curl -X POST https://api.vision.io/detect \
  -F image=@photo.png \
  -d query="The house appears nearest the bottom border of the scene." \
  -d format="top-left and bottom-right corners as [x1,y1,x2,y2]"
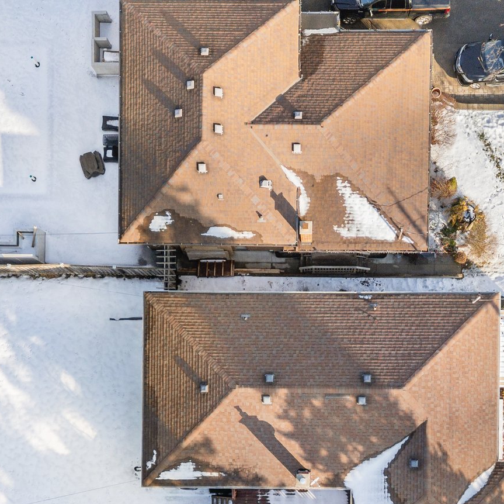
[140,289,504,504]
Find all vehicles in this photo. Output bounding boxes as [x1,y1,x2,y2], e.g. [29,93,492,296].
[329,0,450,24]
[453,33,504,88]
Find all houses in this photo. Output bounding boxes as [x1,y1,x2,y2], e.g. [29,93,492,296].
[140,289,504,504]
[116,0,434,255]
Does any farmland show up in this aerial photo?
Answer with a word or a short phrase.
No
